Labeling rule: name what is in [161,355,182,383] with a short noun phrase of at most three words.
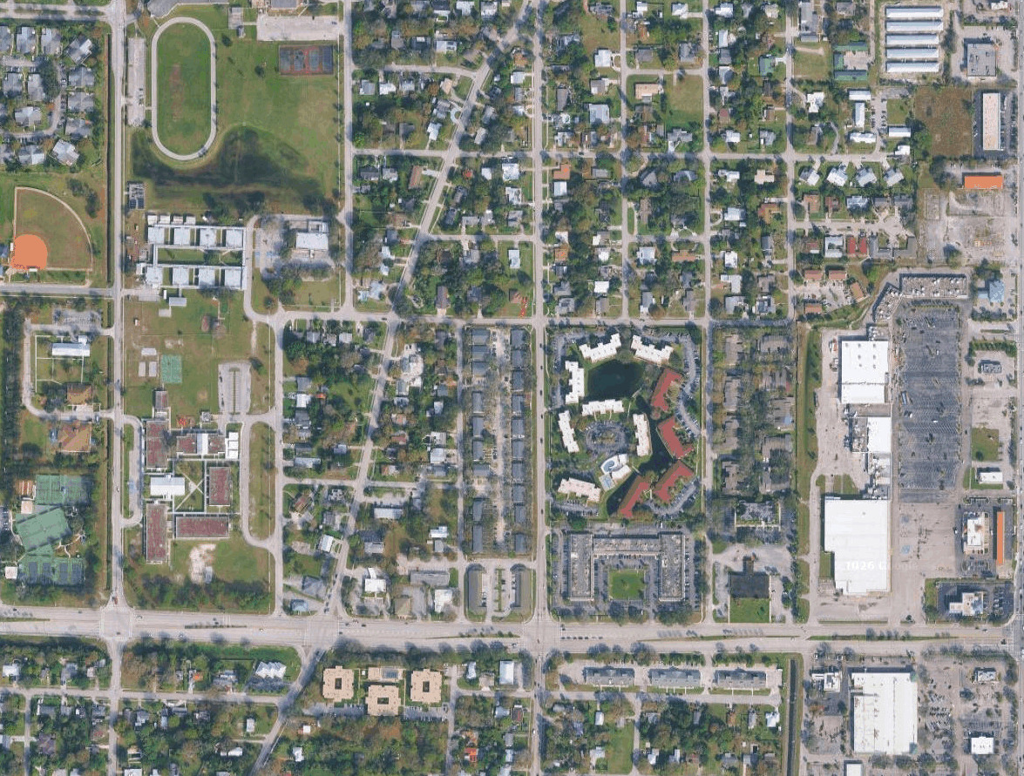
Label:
basketball court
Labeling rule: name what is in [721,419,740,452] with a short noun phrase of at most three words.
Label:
building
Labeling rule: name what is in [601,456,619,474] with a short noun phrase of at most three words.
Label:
swimming pool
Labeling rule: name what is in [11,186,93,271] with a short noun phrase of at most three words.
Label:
baseball field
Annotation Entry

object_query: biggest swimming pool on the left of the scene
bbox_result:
[381,668,405,681]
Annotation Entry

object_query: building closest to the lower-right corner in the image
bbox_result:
[970,737,994,754]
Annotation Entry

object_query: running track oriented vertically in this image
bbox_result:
[152,17,216,160]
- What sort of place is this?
residential area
